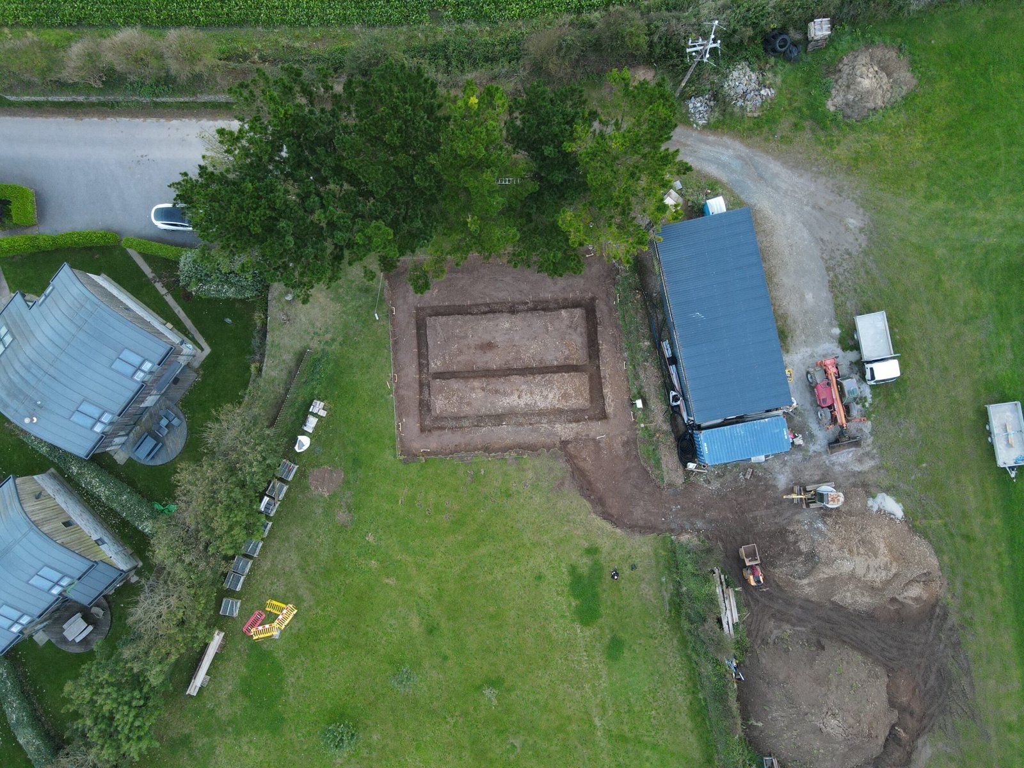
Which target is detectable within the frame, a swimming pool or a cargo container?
cargo container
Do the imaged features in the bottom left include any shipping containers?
No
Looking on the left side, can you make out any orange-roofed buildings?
No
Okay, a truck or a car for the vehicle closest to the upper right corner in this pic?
truck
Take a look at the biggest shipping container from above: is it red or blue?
blue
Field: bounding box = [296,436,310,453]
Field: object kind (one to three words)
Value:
boat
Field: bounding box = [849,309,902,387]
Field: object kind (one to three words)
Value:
truck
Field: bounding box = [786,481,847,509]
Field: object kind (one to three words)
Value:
work vehicle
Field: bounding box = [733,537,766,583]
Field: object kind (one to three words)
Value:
truck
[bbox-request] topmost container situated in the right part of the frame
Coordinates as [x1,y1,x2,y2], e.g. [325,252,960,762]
[689,413,793,467]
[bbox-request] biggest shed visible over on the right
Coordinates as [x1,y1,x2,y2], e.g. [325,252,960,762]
[653,206,793,426]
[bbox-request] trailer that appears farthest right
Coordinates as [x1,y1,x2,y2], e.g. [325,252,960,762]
[980,400,1024,483]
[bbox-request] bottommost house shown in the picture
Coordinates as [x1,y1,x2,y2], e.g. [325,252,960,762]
[0,462,151,658]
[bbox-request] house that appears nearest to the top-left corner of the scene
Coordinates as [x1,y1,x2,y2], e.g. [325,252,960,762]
[0,263,210,460]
